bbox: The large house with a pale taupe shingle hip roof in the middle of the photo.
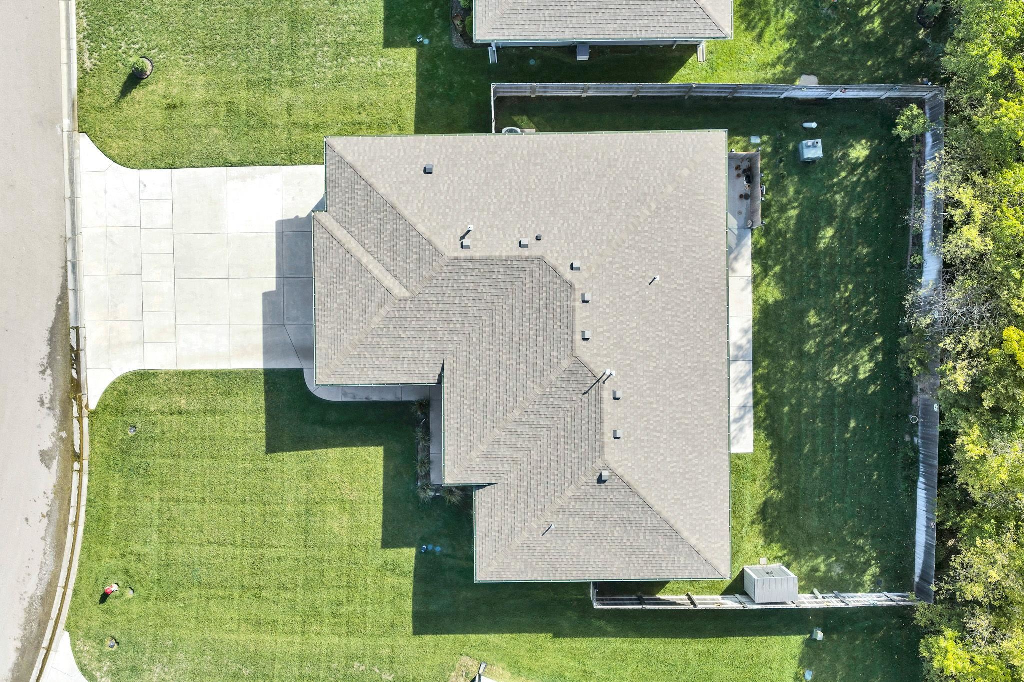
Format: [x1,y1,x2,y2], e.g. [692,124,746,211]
[311,130,731,584]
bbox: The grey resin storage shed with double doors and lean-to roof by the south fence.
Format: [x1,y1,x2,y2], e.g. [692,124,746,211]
[744,560,799,602]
